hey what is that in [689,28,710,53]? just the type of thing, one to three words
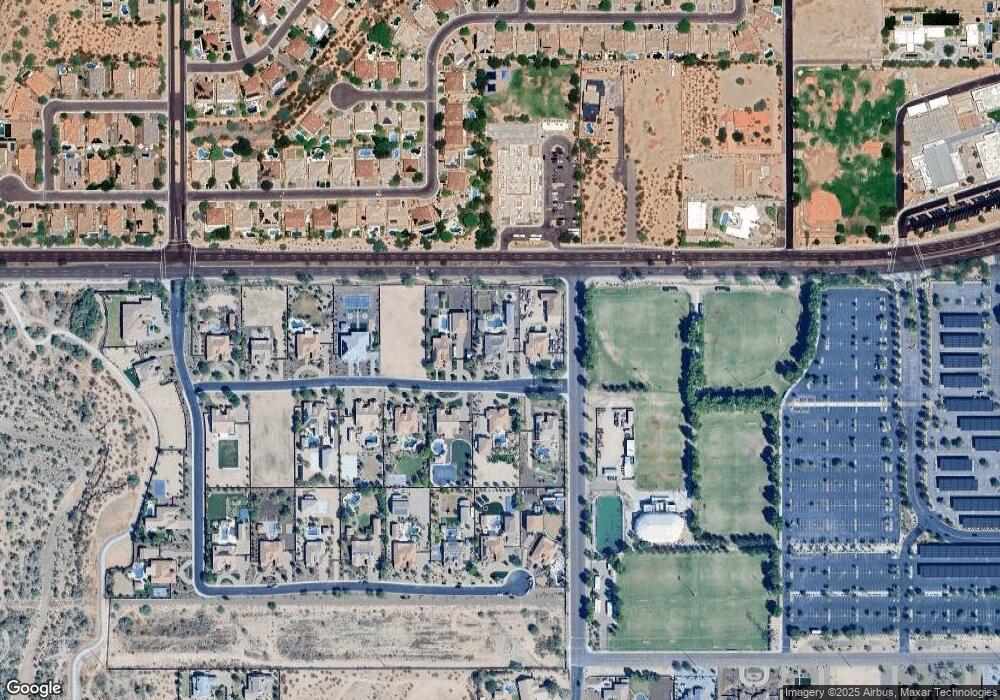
house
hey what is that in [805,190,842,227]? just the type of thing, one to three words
baseball field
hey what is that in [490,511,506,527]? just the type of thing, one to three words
swimming pool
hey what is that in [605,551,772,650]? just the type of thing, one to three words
sports field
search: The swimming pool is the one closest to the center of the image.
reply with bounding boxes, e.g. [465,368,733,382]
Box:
[483,314,504,329]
